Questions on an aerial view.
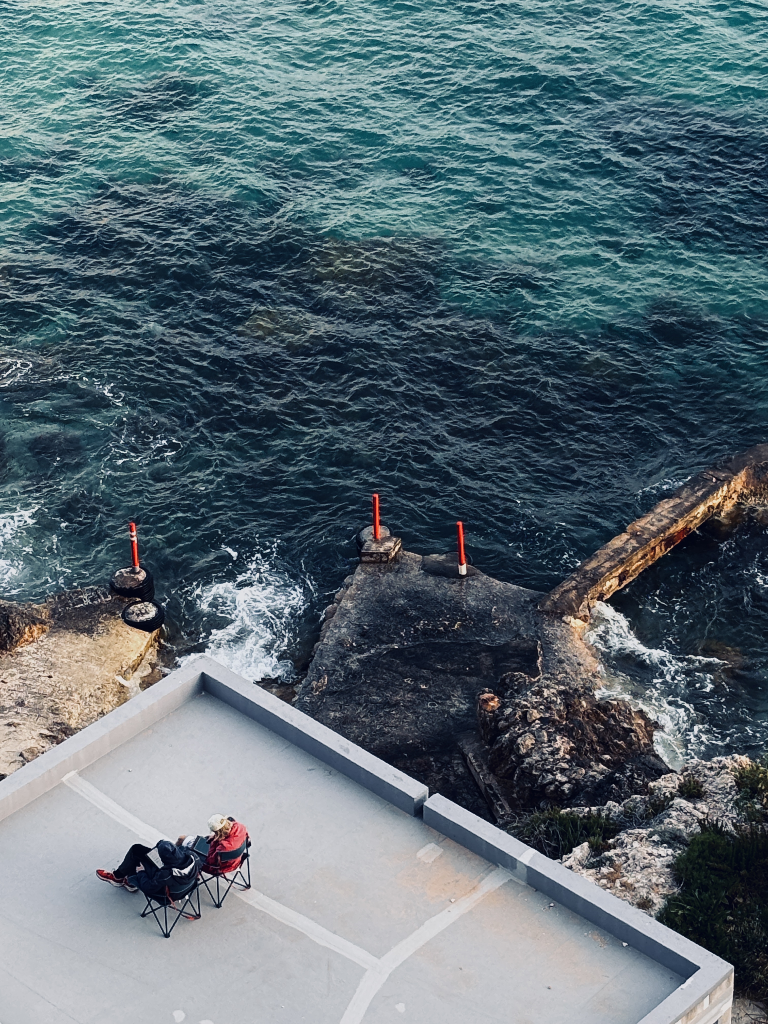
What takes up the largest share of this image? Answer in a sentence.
The bulk of the photo consists of water.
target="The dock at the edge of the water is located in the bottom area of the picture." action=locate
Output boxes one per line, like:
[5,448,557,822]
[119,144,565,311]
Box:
[293,550,606,811]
